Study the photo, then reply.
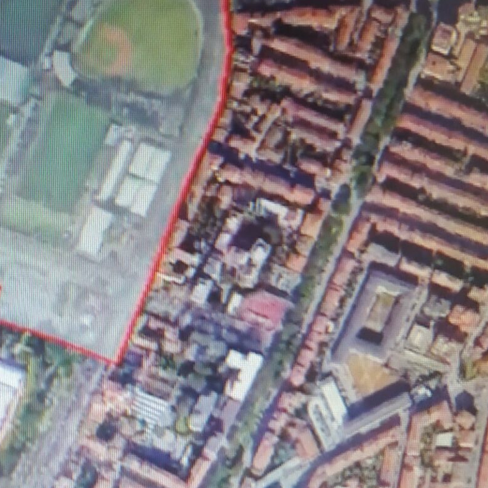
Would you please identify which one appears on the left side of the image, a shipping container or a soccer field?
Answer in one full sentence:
The one visible on the left side of the image is a soccer field.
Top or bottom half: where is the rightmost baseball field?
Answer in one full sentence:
The rightmost baseball field sits in the top half of the picture.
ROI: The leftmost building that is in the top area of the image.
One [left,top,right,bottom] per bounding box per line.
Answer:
[51,50,77,85]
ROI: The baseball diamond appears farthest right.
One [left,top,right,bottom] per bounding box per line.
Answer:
[76,0,201,93]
